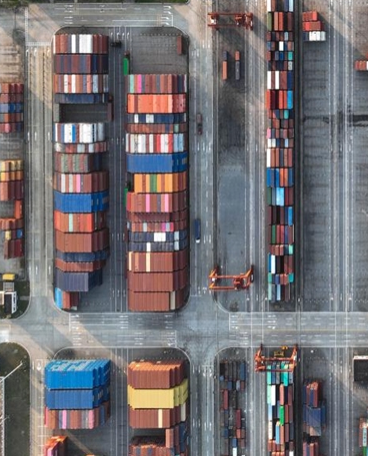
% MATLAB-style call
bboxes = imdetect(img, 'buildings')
[354,354,368,384]
[2,290,16,312]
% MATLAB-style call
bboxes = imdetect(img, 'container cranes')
[206,12,253,33]
[254,340,299,373]
[206,264,253,292]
